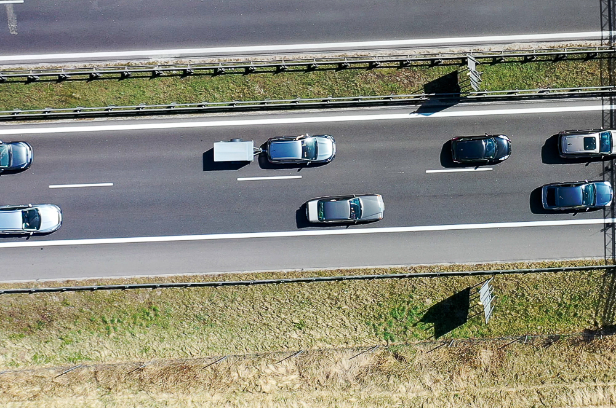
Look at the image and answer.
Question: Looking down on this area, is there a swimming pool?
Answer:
No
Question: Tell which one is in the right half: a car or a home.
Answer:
car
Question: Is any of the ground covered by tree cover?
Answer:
No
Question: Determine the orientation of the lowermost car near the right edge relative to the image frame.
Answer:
from left to right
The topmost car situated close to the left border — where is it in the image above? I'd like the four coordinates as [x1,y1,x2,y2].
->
[0,137,36,173]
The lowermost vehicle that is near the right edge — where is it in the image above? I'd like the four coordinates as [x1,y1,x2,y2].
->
[541,177,614,212]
